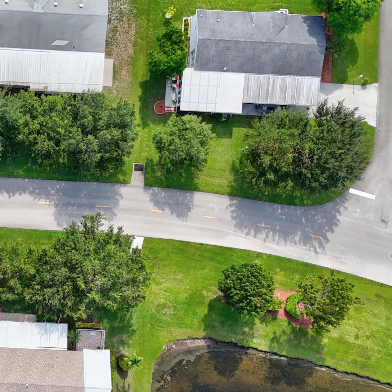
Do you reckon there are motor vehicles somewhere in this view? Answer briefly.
No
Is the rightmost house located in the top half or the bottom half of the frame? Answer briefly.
top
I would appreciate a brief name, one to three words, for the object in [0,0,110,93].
house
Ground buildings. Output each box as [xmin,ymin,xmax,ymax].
[179,9,326,114]
[0,320,113,392]
[0,0,110,93]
